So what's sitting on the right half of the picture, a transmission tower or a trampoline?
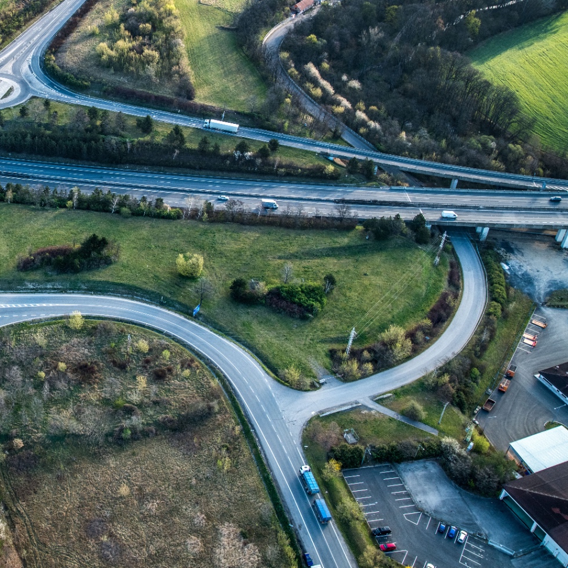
transmission tower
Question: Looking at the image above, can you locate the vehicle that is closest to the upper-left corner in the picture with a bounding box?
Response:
[203,118,240,132]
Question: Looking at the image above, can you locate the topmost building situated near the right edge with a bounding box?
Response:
[524,362,568,414]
